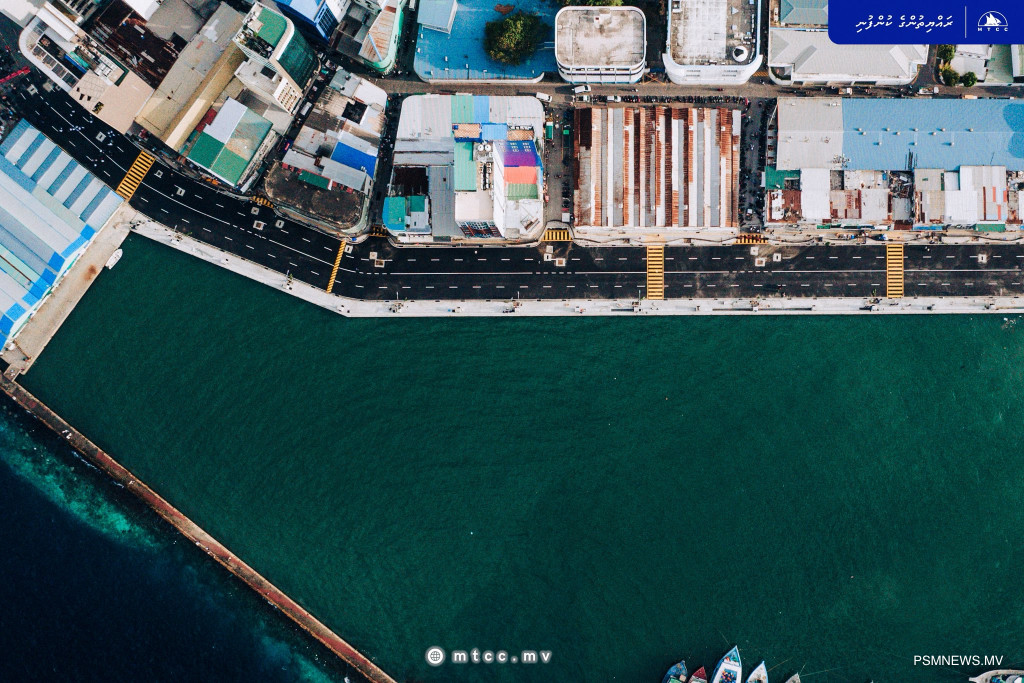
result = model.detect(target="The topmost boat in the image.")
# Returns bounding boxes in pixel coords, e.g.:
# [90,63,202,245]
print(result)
[106,249,122,270]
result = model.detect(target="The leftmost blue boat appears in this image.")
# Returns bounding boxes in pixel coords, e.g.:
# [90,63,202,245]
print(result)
[658,660,685,683]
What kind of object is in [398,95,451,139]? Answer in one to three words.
building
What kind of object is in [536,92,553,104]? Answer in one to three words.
vehicle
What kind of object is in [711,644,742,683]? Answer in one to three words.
boat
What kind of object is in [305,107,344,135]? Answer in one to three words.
house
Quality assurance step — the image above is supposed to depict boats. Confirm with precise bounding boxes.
[106,249,122,270]
[687,665,705,683]
[781,671,798,683]
[970,668,1024,683]
[711,644,742,683]
[741,660,765,683]
[658,660,685,683]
